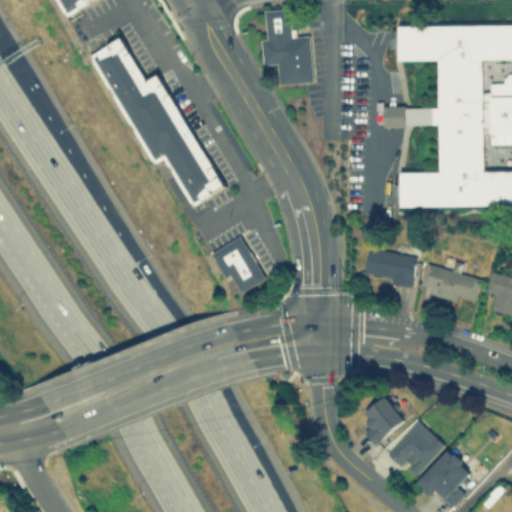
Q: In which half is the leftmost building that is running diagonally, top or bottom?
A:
top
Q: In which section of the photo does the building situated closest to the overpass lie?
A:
center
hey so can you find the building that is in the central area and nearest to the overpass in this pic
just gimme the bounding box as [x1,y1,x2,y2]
[214,236,266,292]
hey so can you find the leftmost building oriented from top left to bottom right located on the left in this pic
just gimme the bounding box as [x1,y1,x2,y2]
[92,38,223,208]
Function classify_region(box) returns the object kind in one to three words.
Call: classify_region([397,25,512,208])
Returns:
building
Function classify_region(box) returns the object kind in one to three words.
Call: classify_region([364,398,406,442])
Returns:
house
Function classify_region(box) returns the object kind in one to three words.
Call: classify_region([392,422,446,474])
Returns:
house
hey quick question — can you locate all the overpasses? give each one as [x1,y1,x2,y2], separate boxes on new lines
[38,309,280,452]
